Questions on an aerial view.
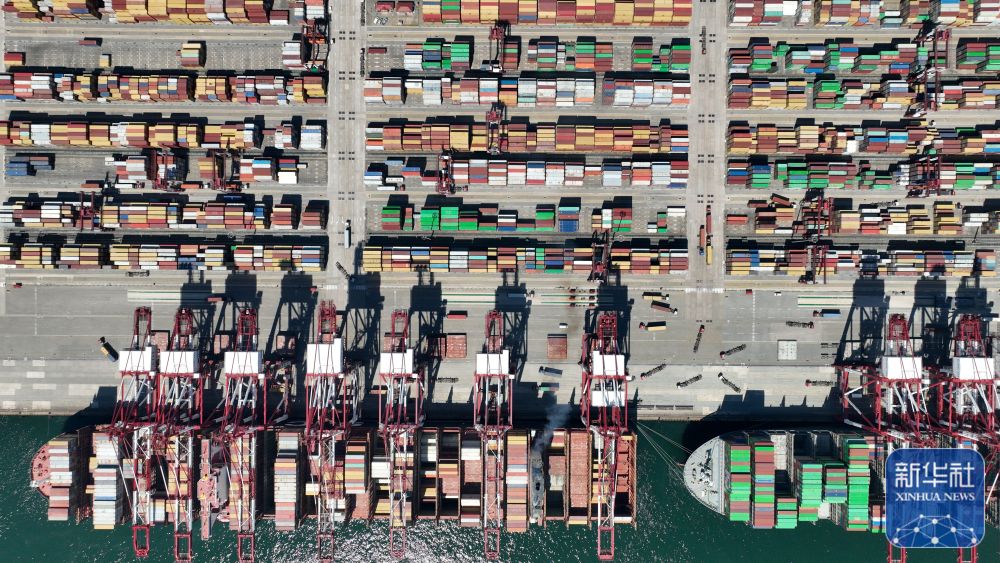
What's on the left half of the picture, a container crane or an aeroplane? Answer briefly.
container crane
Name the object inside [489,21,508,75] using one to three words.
container crane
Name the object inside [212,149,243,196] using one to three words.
container crane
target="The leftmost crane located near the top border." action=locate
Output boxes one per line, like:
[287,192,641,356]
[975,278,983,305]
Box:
[304,20,329,73]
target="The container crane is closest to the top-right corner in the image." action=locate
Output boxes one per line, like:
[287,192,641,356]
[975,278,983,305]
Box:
[911,25,951,78]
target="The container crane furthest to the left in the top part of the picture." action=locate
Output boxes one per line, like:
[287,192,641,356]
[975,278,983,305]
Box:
[79,185,118,230]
